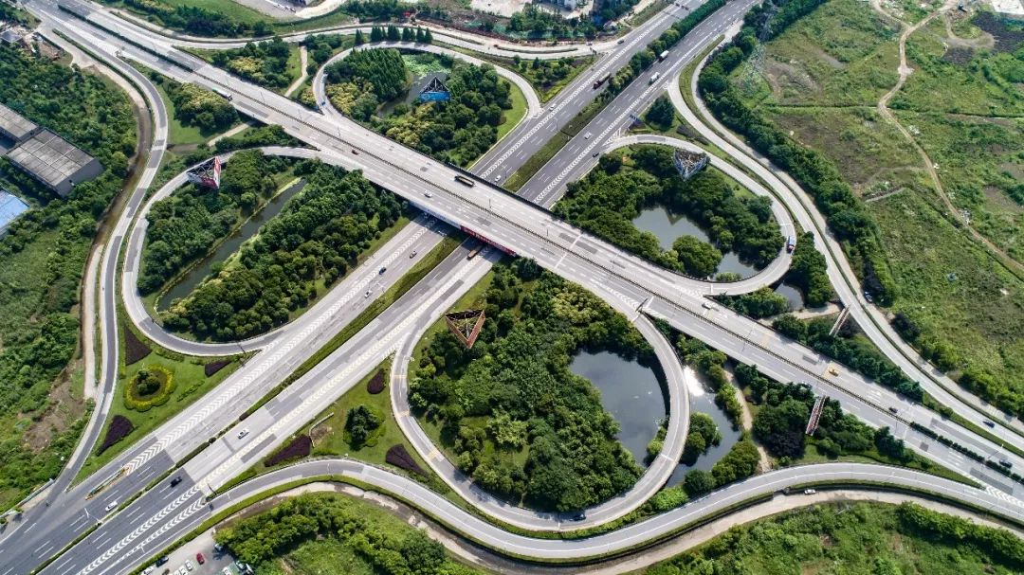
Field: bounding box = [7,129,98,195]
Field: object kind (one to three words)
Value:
shed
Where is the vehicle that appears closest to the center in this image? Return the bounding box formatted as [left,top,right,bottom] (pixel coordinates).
[468,244,482,258]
